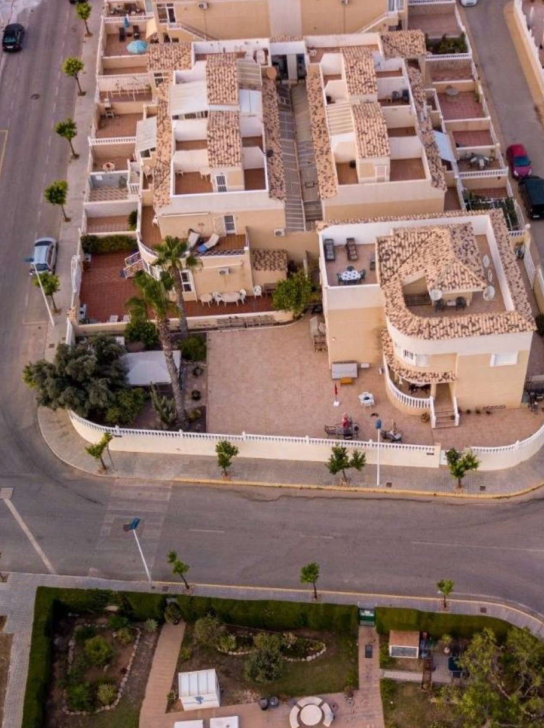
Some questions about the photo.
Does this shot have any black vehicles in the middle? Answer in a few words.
No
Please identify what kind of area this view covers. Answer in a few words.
residential area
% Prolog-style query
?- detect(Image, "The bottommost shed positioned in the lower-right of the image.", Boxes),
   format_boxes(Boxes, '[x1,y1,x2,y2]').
[390,632,419,653]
